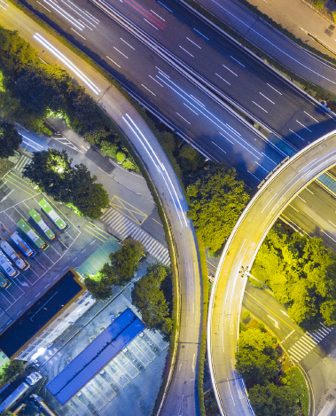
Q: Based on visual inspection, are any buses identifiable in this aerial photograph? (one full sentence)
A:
Yes, the frame does contain a bus.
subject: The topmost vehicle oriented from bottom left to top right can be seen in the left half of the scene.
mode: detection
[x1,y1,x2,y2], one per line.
[23,371,41,385]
